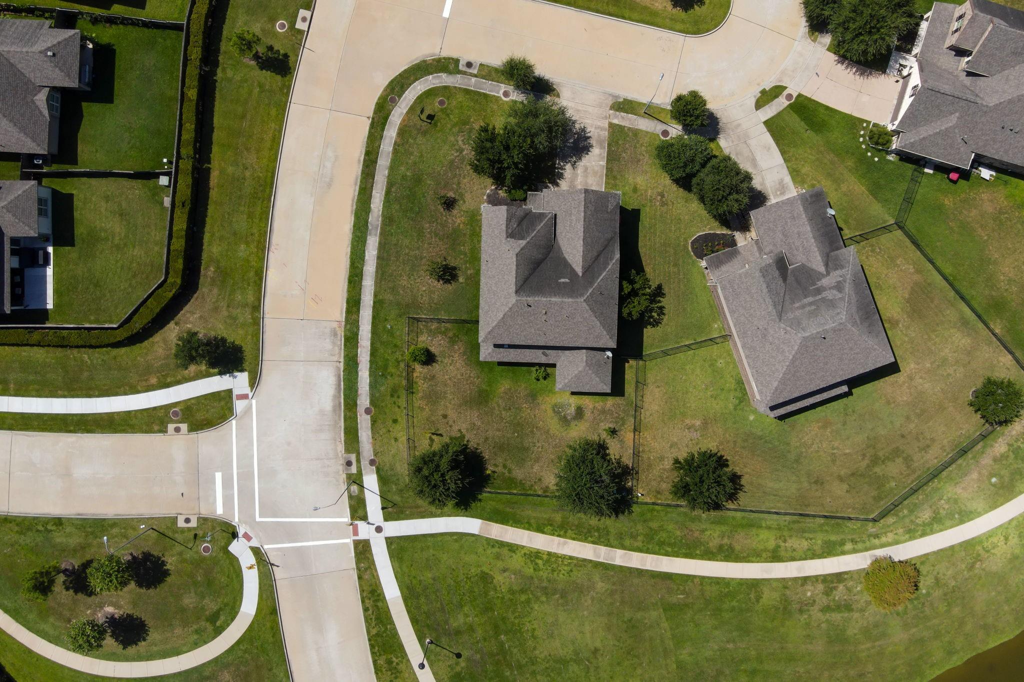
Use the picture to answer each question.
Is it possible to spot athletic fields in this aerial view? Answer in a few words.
No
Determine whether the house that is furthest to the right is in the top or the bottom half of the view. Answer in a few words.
top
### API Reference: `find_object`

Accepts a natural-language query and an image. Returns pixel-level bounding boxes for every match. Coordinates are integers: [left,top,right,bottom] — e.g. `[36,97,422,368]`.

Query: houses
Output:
[479,188,621,393]
[0,180,54,313]
[703,187,895,418]
[0,19,95,155]
[887,0,1024,174]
